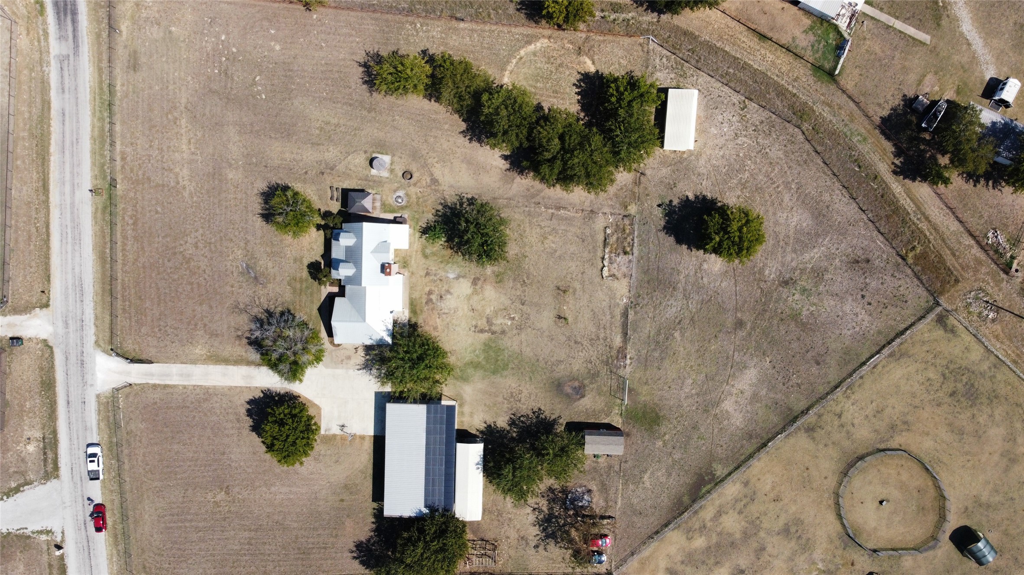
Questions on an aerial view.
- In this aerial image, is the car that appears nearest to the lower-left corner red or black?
red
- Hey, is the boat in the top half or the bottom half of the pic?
top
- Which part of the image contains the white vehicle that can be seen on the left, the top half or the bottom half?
bottom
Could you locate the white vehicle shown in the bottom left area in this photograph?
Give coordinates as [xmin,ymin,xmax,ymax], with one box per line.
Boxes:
[85,445,105,482]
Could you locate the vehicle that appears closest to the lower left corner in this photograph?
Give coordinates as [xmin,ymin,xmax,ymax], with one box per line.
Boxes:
[88,503,109,534]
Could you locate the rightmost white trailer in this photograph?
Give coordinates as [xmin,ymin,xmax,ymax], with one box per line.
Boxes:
[988,74,1024,113]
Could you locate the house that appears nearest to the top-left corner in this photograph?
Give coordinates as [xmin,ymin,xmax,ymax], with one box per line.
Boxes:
[330,221,411,345]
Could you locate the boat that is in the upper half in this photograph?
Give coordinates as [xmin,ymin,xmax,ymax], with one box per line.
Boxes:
[924,101,946,130]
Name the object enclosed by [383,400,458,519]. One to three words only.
building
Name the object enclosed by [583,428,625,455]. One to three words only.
shed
